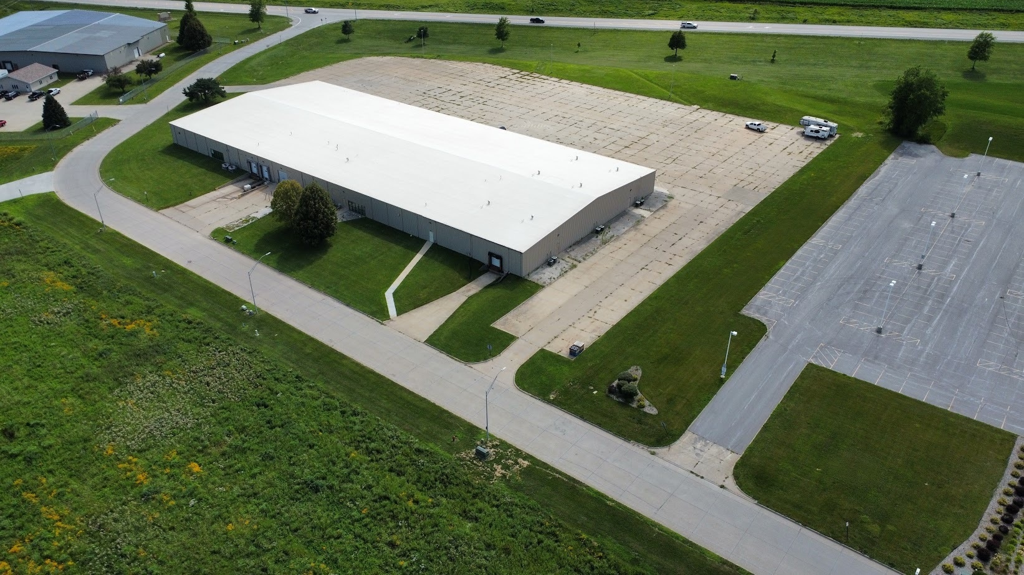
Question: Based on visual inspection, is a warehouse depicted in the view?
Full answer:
Yes, there's a warehouse here.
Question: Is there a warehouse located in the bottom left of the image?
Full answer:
No, the scene shows no warehouse in the bottom left of the image.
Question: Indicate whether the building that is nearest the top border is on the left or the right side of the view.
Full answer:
The building that is nearest the top border is on the left side of the image.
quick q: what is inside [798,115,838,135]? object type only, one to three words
camper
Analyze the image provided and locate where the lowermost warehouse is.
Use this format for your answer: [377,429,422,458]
[169,81,658,277]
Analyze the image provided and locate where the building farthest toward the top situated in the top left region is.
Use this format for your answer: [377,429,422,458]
[0,9,171,71]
